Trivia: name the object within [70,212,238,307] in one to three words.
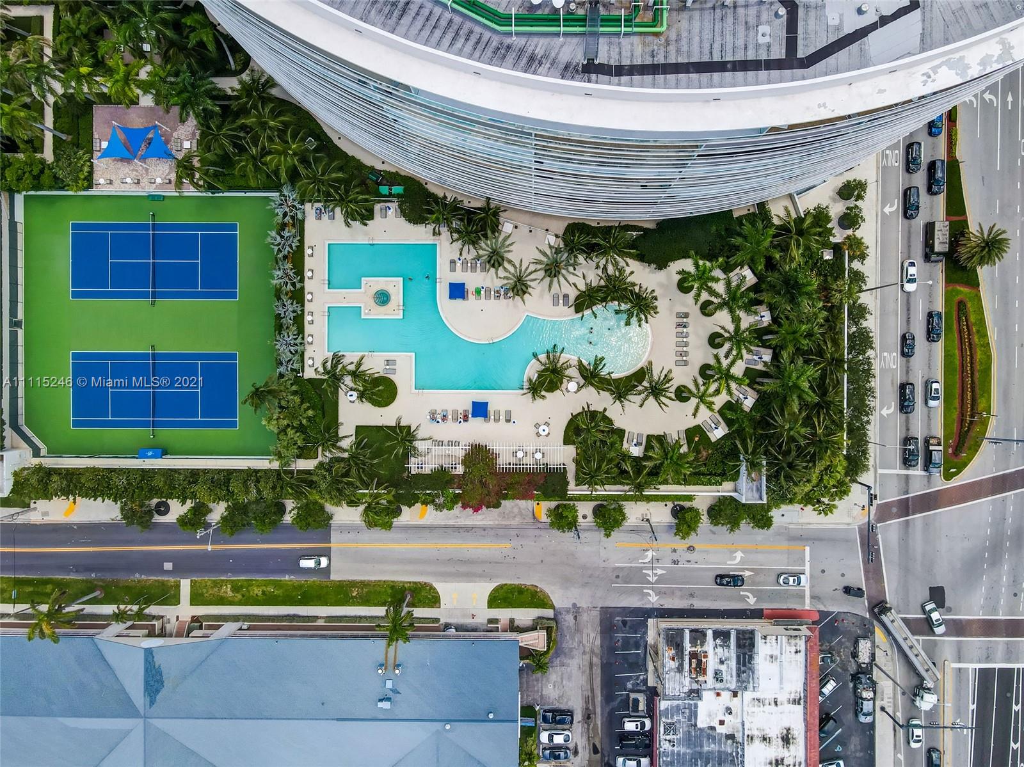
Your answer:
tennis court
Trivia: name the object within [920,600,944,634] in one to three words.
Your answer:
car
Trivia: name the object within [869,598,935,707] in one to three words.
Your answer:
truck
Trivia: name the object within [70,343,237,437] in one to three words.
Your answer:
tennis court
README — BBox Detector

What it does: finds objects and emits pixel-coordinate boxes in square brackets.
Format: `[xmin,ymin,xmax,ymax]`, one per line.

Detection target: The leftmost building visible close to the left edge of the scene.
[0,449,30,486]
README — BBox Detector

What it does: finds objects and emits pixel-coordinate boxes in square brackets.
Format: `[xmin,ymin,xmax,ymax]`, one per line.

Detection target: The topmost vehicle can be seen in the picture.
[926,111,944,140]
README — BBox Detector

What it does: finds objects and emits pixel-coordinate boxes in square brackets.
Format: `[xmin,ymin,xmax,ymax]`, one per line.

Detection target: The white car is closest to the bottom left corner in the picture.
[298,555,329,570]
